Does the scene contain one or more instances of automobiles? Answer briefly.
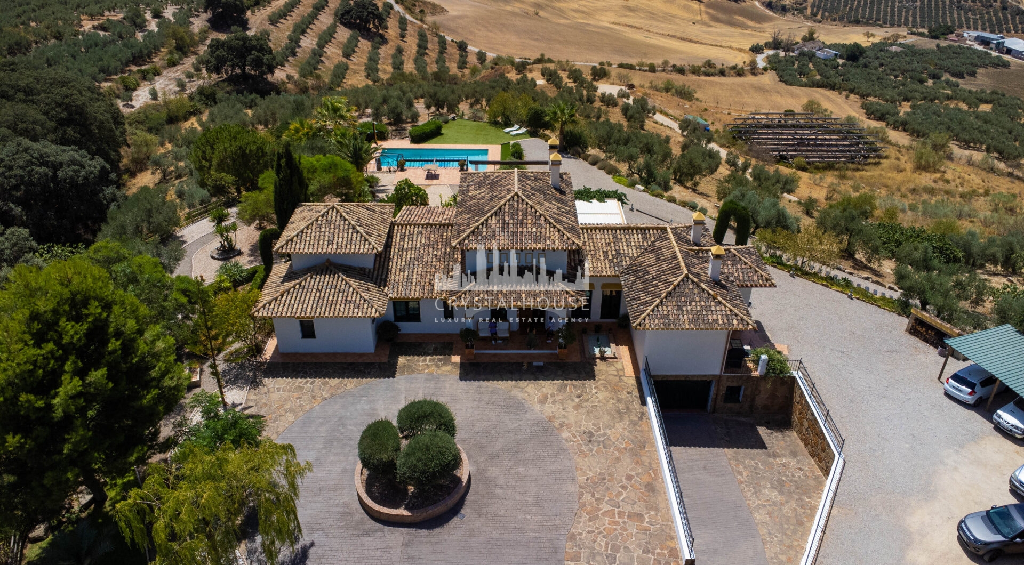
Yes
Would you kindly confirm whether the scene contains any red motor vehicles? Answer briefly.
No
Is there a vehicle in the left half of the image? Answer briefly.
No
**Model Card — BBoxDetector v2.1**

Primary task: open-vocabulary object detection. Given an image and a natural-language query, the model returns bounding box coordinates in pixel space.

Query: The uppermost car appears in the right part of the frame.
[947,362,1007,407]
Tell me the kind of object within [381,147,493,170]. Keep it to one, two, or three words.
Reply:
swimming pool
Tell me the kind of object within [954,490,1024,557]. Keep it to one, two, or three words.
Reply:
car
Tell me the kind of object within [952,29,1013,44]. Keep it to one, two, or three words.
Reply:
barn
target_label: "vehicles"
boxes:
[954,490,1024,557]
[1011,456,1024,490]
[947,362,1007,407]
[988,390,1024,438]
